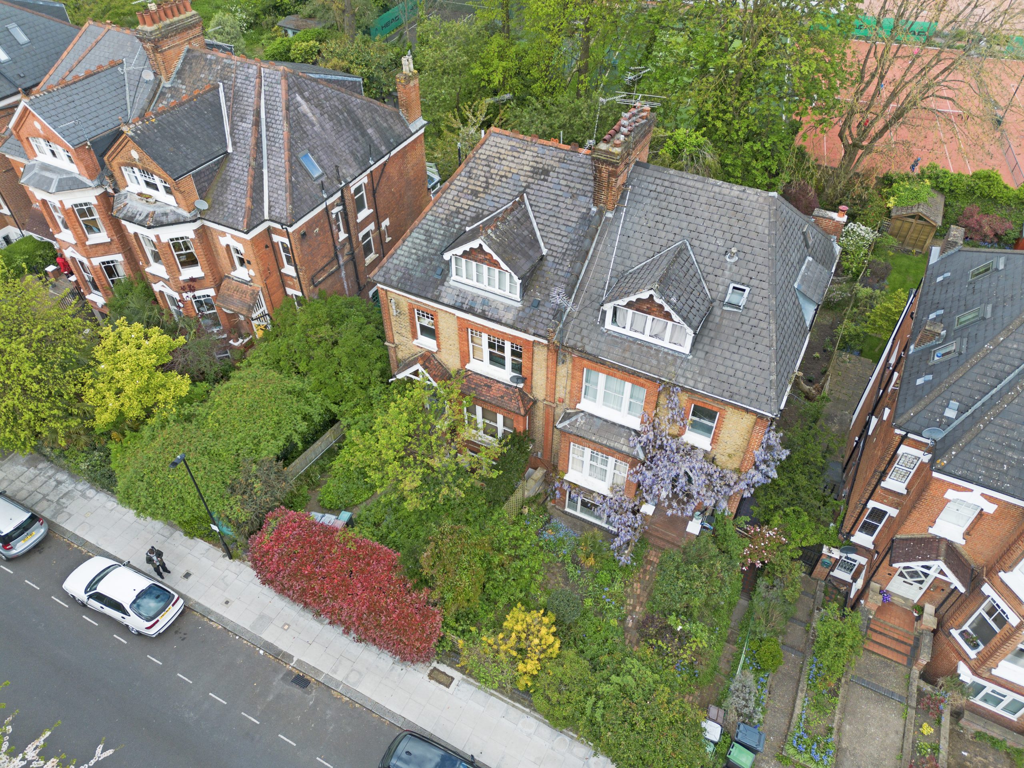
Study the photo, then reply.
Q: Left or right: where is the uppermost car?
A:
left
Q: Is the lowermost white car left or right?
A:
left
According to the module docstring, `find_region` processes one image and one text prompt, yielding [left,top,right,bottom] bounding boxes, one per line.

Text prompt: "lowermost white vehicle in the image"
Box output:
[65,557,190,645]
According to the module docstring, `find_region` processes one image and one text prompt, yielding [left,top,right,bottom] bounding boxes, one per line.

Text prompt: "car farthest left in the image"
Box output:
[0,495,52,561]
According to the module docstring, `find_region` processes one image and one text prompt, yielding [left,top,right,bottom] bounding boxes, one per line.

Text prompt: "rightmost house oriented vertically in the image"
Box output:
[807,225,1024,705]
